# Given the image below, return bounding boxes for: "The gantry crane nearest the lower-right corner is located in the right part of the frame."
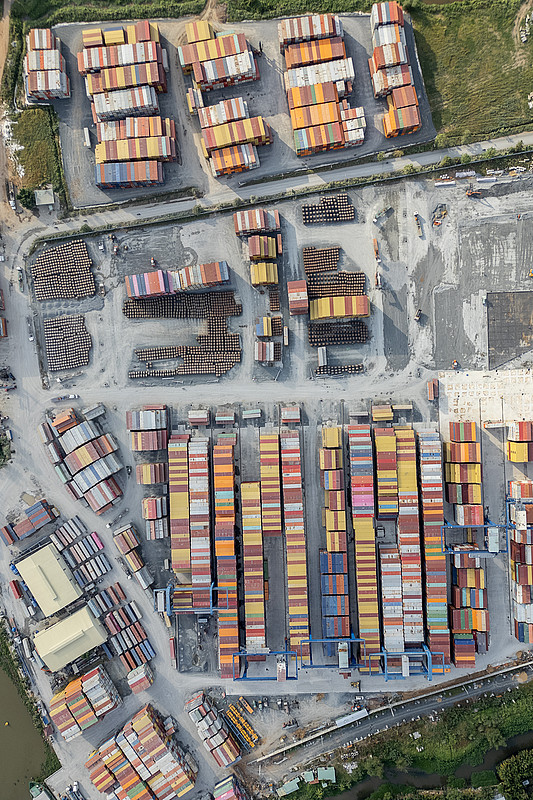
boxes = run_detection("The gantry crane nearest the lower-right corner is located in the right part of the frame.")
[370,639,444,680]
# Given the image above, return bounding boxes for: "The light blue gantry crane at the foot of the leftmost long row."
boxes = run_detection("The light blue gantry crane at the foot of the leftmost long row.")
[154,577,228,614]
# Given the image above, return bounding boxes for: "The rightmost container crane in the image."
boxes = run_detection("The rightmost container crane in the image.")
[499,494,533,531]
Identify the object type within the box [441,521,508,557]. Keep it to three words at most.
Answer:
container crane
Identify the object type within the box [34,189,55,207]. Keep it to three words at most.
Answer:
shed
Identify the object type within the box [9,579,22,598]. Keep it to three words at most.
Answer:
vehicle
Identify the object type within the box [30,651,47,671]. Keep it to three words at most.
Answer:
vehicle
